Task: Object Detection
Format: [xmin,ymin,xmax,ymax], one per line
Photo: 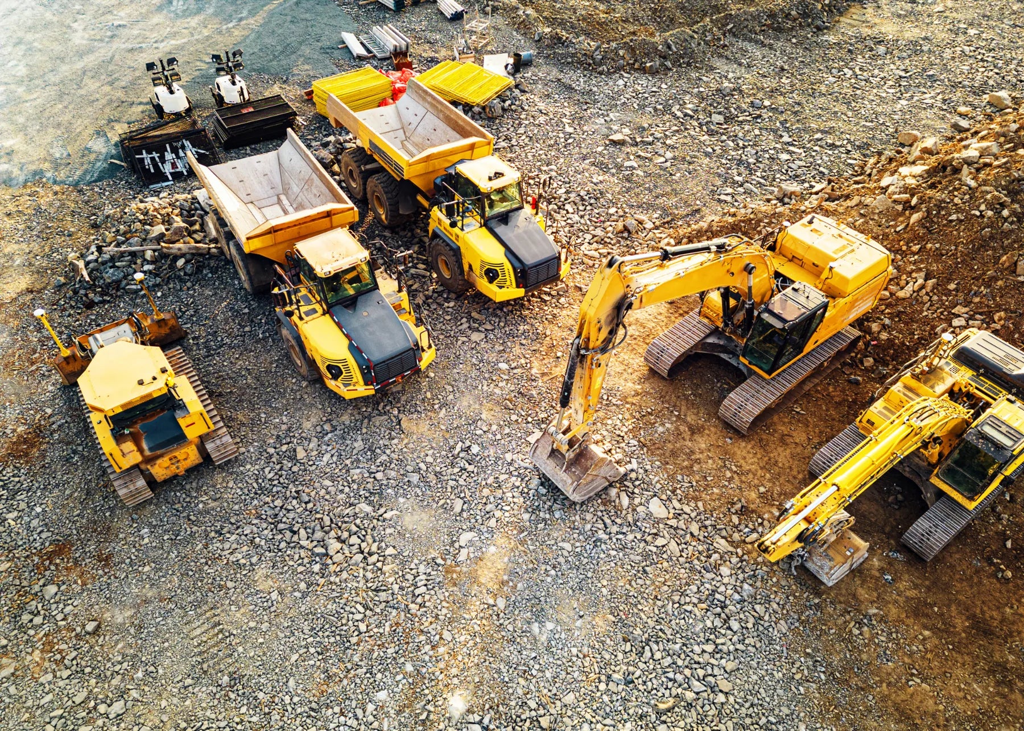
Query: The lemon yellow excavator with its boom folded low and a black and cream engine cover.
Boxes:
[753,323,1024,591]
